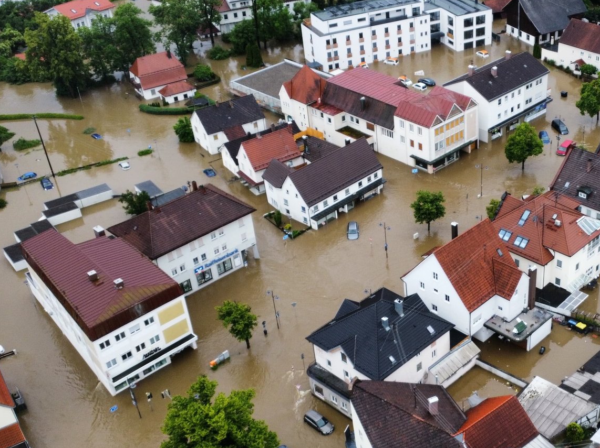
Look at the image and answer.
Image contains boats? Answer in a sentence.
No, the photo shows no boat.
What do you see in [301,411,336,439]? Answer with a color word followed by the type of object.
gray car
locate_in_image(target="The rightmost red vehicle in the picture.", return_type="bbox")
[557,141,574,155]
